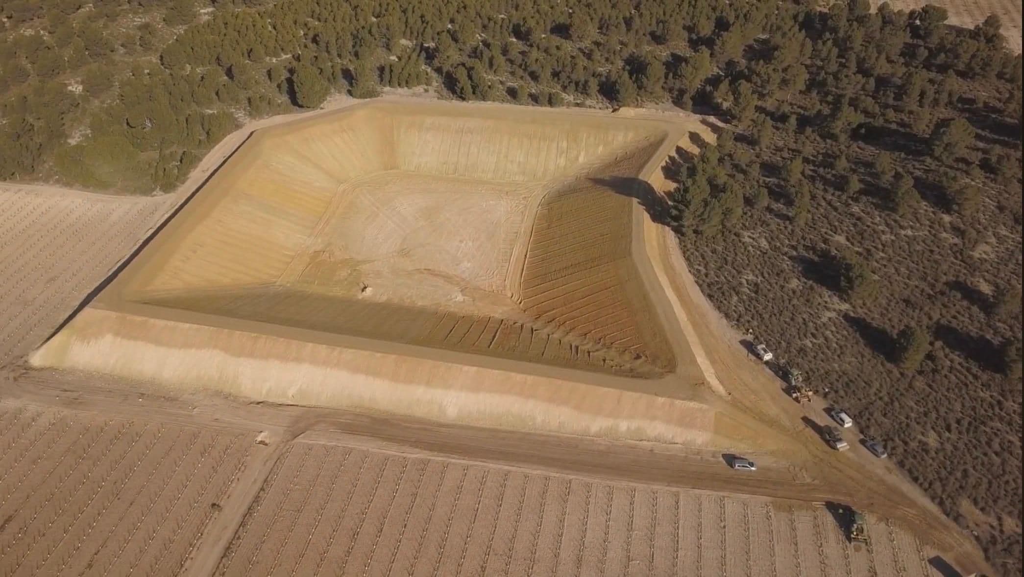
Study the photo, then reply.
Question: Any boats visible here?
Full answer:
No, I can see no boat in this picture.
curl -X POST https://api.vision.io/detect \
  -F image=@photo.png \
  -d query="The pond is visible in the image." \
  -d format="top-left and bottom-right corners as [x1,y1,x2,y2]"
[37,100,746,443]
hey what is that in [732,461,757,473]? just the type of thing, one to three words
vehicle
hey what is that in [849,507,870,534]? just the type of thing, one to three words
work vehicle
